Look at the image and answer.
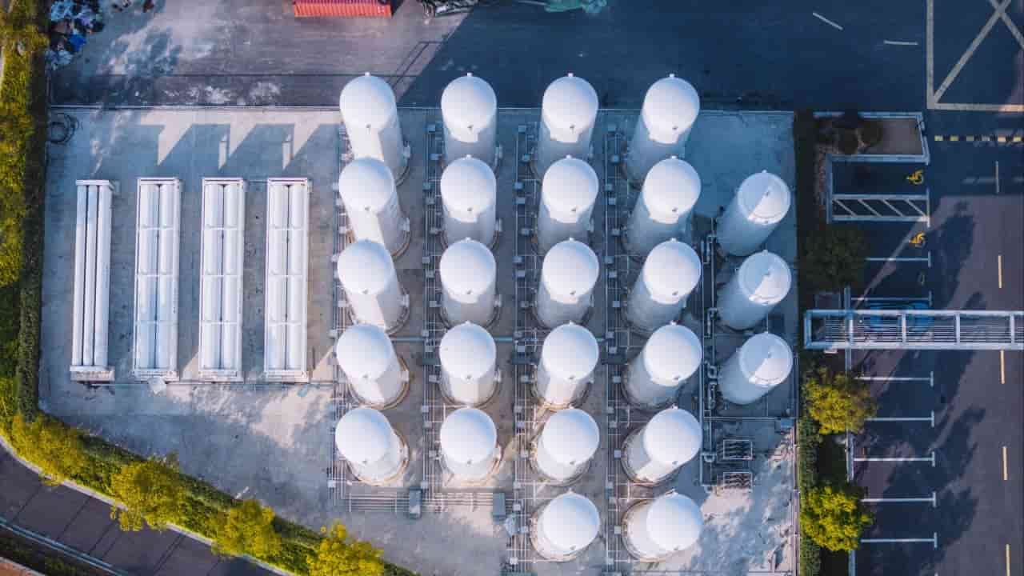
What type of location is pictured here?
industrial area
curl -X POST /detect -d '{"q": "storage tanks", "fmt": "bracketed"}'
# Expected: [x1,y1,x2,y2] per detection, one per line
[715,329,798,407]
[337,320,409,419]
[712,168,794,258]
[614,405,702,502]
[432,404,501,502]
[526,238,599,351]
[339,155,411,258]
[435,74,502,201]
[619,321,702,426]
[526,405,599,503]
[614,490,703,576]
[618,75,700,202]
[338,237,410,336]
[336,404,409,501]
[434,155,502,276]
[433,321,502,426]
[526,489,600,576]
[618,238,701,350]
[526,321,599,426]
[434,237,502,350]
[618,156,700,276]
[526,74,599,202]
[340,73,411,183]
[526,156,599,275]
[712,248,794,332]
